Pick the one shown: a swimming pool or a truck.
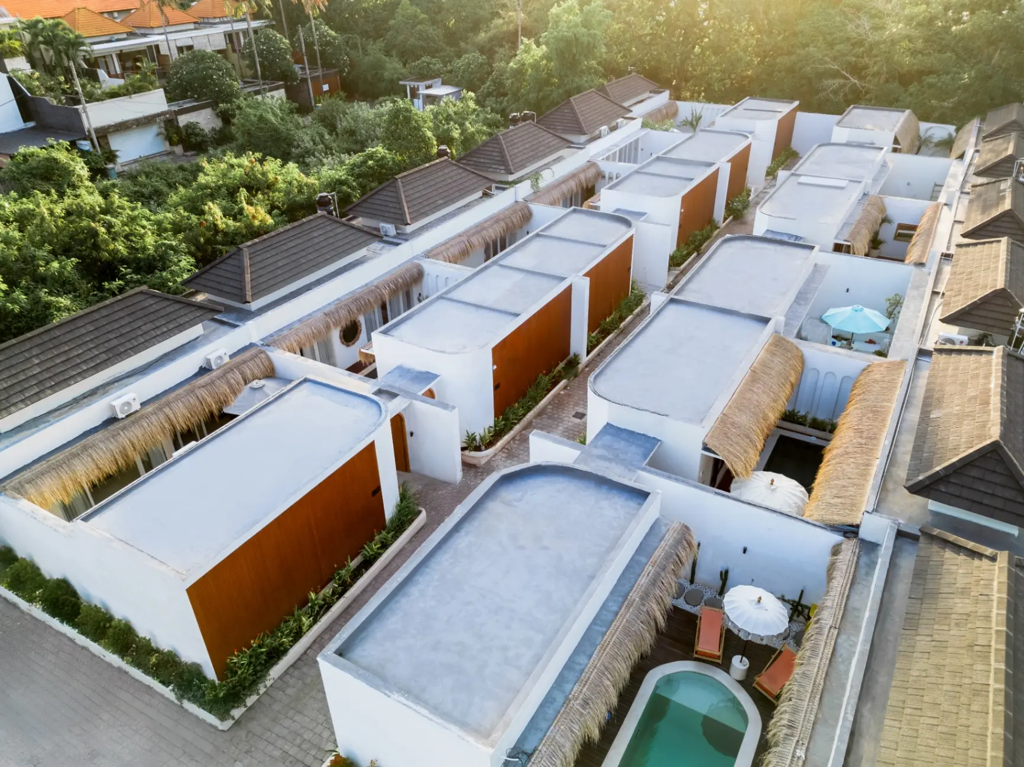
swimming pool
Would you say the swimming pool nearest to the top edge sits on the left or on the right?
right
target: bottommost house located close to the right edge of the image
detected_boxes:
[867,519,1024,767]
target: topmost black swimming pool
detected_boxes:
[752,427,826,490]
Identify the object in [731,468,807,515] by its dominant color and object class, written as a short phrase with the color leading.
white umbrella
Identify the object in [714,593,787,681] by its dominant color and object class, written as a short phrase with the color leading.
white umbrella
